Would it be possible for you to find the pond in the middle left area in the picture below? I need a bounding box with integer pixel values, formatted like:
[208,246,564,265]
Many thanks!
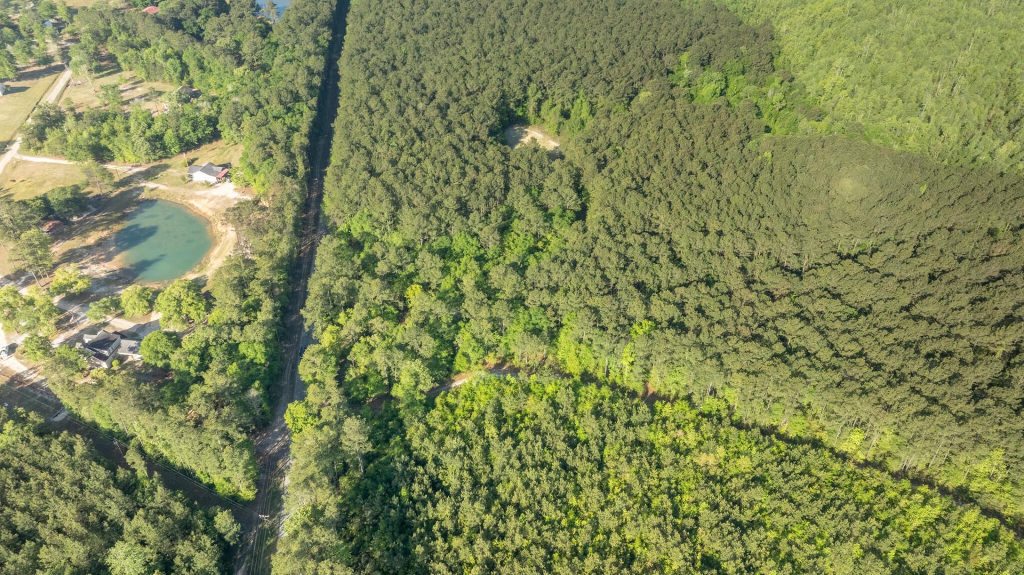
[115,199,215,284]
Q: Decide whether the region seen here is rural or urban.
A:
rural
